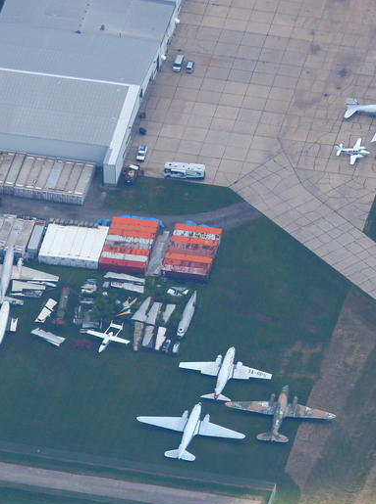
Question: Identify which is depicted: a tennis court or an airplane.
airplane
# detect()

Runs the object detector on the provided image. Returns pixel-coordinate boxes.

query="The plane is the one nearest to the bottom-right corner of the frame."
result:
[224,386,337,442]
